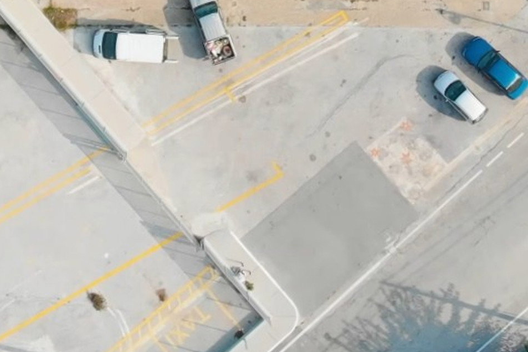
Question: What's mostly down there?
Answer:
paved ground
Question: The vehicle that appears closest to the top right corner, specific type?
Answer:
car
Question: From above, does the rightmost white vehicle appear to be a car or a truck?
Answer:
car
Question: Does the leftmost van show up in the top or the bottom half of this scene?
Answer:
top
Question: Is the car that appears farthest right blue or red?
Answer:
blue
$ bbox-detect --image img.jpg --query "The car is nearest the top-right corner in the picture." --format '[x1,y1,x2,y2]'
[460,36,527,102]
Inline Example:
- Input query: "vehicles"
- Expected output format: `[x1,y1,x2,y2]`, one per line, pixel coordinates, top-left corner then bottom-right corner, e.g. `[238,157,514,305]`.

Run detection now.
[93,25,180,63]
[460,36,527,102]
[432,67,489,124]
[190,0,237,67]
